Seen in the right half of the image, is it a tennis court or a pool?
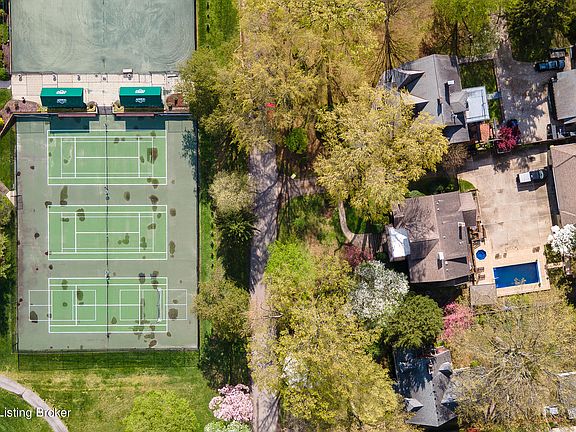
pool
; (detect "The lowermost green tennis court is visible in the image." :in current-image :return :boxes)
[29,278,187,333]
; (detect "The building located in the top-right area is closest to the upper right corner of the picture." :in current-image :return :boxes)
[548,74,576,120]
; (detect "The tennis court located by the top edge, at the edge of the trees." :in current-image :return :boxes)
[8,0,194,73]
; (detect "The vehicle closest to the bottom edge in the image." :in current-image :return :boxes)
[516,169,546,183]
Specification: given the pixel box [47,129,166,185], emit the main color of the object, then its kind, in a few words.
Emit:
green tennis court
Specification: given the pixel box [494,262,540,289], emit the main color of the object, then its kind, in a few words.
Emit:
blue swimming pool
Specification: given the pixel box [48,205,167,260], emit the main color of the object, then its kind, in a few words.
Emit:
green tennis court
